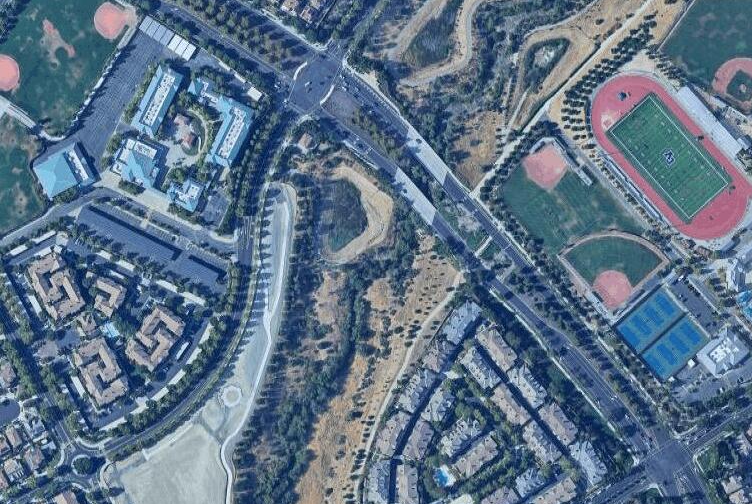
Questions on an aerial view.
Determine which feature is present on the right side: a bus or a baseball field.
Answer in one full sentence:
You can see a baseball field on the right side.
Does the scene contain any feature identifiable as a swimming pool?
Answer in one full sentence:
Yes, the photo shows a swimming pool.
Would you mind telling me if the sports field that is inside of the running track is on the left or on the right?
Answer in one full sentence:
The sports field that is inside of the running track sits on the right side.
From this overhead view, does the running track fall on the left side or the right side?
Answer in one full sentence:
It is on the right.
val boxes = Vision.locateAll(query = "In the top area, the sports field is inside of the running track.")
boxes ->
[607,93,732,223]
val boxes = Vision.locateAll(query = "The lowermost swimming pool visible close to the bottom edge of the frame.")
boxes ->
[433,465,455,487]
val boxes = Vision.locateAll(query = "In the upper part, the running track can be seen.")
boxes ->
[592,76,752,239]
